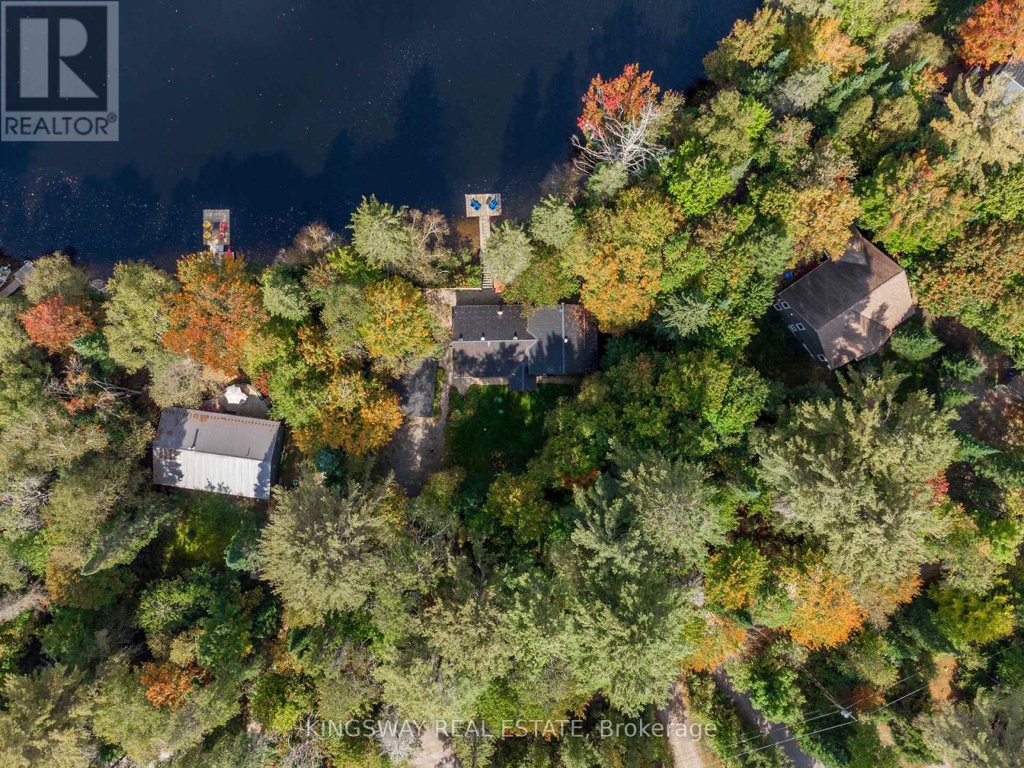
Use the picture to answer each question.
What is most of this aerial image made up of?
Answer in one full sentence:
For the most part, this view shows trees.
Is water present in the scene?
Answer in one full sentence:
Yes, water shows up in the scene.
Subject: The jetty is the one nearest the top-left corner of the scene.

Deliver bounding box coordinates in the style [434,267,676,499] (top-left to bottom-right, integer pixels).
[2,256,45,290]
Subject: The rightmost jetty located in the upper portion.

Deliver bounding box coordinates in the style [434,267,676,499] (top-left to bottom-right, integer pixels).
[466,194,501,269]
